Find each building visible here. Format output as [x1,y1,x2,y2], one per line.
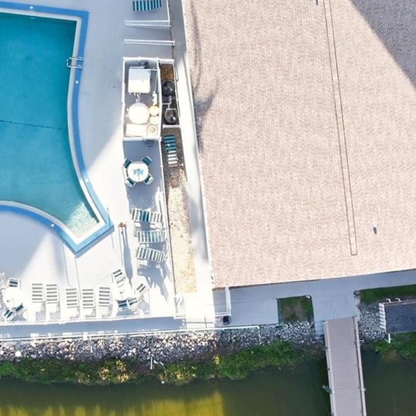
[376,299,416,341]
[181,0,416,289]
